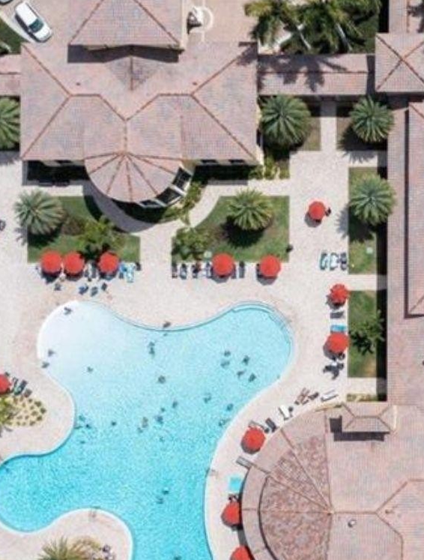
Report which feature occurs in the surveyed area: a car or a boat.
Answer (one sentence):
The one in the frame is a car.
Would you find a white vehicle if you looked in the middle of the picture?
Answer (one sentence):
No, no white vehicle appears in the middle of the picture.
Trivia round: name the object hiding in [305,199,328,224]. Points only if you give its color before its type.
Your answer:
red umbrella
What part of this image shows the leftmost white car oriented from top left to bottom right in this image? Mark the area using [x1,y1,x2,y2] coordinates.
[16,1,53,42]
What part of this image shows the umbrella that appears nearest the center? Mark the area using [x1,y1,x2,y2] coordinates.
[213,251,238,275]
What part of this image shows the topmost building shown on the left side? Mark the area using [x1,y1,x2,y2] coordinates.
[15,0,262,206]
